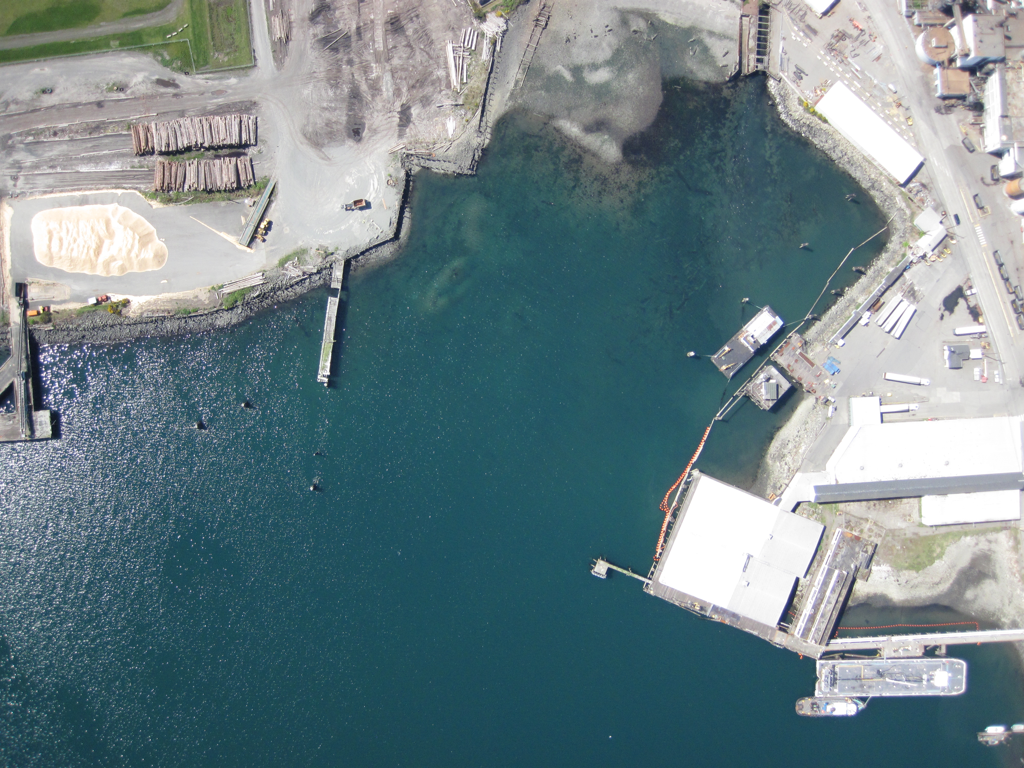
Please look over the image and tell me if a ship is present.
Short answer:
Yes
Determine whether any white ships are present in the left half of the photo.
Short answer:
No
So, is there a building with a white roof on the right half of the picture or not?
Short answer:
Yes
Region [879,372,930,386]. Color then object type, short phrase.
white vehicle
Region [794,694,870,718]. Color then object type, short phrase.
white boat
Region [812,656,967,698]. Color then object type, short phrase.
white ship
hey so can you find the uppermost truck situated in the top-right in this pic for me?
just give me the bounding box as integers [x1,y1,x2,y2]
[846,13,867,35]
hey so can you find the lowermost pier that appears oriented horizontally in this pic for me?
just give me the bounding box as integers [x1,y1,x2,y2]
[824,625,1024,657]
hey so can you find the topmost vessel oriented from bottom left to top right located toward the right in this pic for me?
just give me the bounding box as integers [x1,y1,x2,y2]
[710,306,785,378]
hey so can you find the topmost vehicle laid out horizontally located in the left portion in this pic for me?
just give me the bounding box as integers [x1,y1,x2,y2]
[341,198,366,211]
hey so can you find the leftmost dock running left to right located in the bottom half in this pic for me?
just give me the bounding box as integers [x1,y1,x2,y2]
[591,555,648,582]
